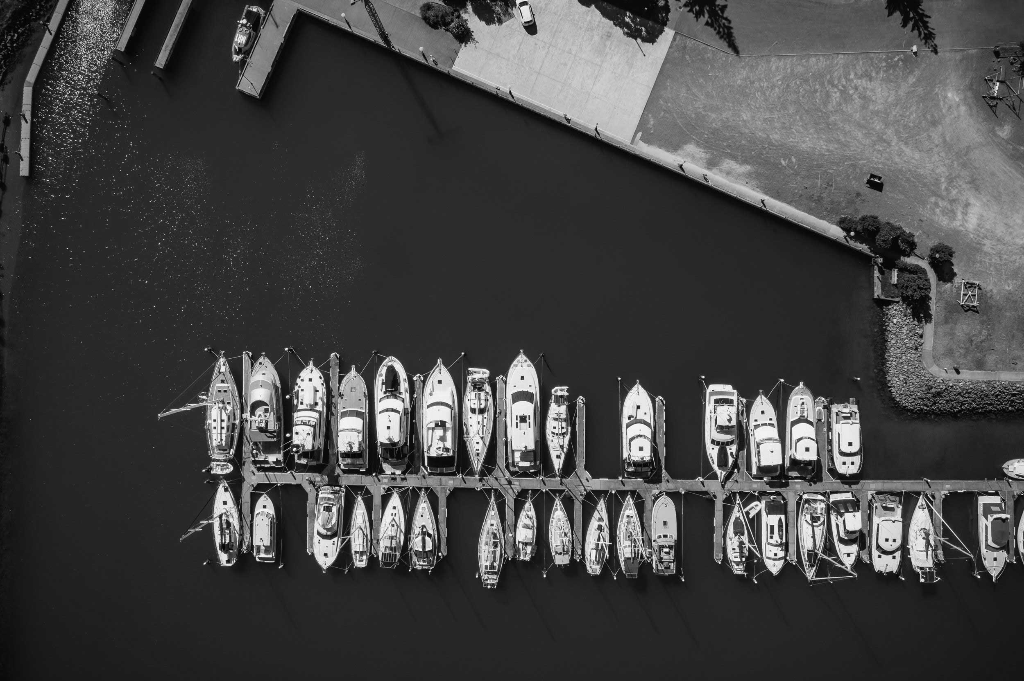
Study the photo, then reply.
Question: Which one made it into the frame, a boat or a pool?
boat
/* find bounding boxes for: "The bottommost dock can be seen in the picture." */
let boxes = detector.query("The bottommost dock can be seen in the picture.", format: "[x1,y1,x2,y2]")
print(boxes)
[242,351,1024,562]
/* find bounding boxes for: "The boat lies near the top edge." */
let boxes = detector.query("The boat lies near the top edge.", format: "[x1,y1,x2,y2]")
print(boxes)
[230,1,266,71]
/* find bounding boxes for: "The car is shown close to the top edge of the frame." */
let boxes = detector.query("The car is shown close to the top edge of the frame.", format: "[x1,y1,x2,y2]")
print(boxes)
[515,0,535,26]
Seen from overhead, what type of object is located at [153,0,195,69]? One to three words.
pier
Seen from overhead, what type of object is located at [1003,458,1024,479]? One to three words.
boat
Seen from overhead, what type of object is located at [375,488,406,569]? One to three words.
boat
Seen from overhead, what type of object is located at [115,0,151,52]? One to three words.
pier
